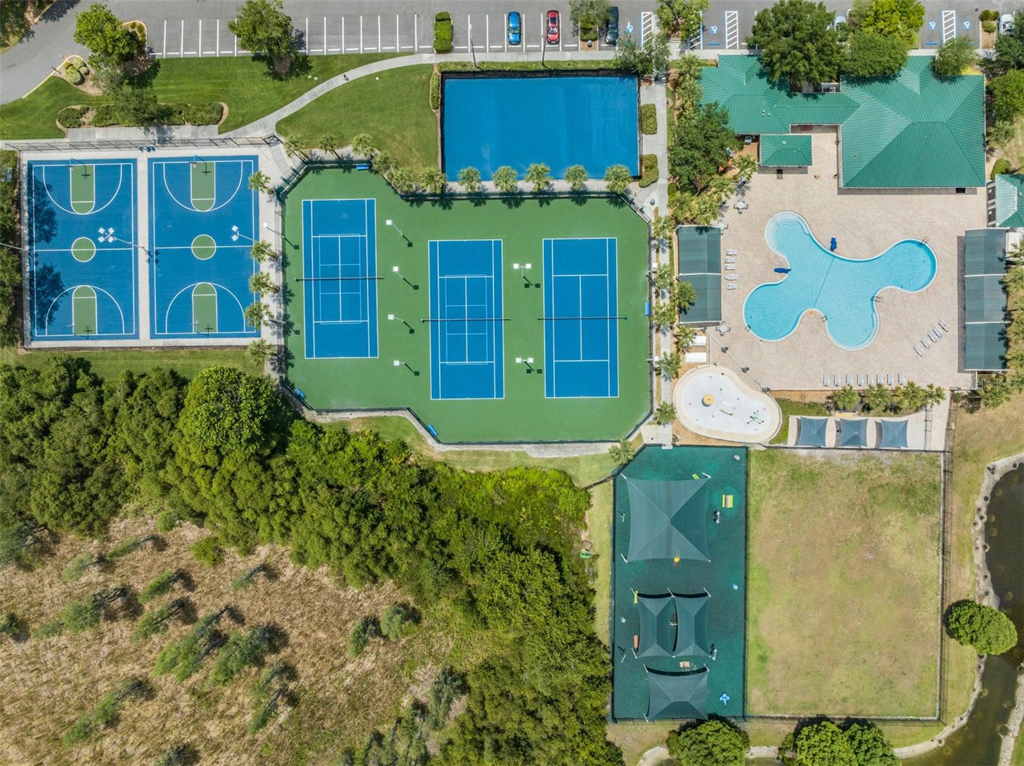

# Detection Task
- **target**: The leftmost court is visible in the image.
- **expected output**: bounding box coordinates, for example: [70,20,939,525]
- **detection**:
[27,158,139,341]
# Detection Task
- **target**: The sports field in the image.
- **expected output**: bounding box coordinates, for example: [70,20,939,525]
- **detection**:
[750,450,943,717]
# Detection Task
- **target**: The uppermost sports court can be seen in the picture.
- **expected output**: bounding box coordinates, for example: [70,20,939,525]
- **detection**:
[440,65,643,182]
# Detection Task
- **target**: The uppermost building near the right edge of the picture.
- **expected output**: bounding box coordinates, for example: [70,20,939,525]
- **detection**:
[700,54,986,190]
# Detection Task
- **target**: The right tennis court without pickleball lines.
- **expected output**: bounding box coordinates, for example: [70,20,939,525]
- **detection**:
[543,238,619,398]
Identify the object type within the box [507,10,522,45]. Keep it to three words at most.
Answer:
car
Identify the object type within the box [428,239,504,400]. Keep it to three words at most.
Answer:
tennis court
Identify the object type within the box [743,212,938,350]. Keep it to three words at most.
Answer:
swimming pool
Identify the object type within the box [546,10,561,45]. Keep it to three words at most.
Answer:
car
